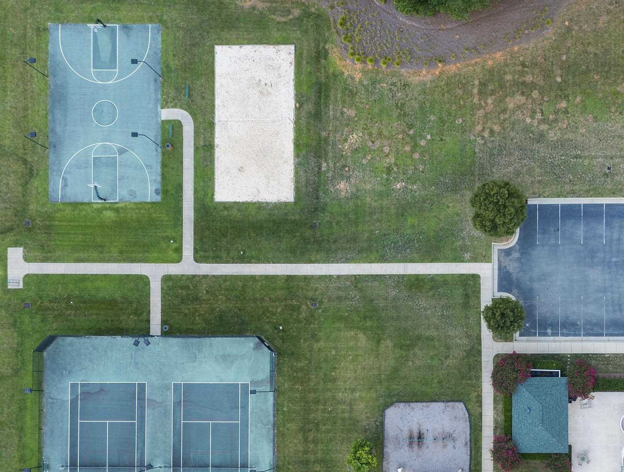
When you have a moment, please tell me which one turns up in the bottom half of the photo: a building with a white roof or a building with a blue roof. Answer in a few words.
building with a blue roof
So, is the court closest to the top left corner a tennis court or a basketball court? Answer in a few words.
basketball court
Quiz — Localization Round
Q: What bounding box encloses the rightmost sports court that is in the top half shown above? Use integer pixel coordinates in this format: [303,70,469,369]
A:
[214,43,296,202]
